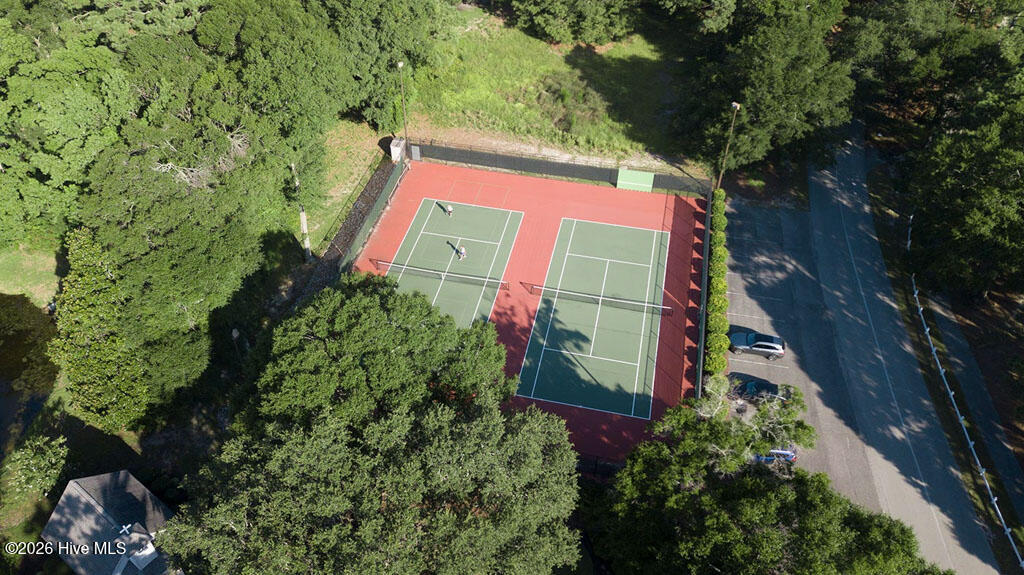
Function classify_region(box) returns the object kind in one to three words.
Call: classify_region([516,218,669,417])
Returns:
tennis court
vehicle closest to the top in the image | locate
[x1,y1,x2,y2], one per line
[728,330,786,360]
